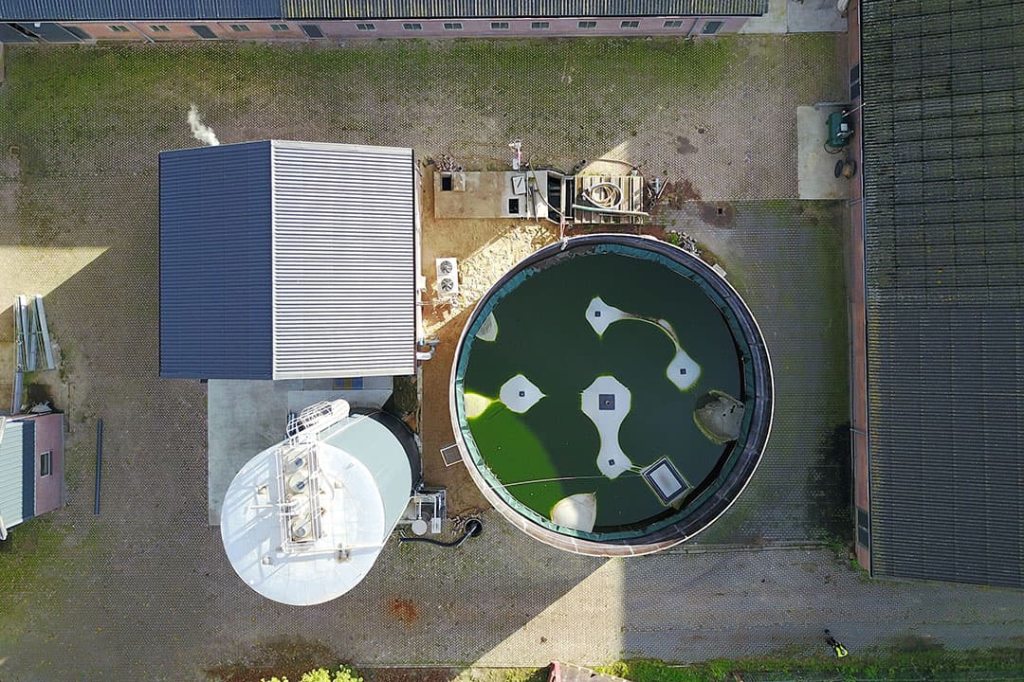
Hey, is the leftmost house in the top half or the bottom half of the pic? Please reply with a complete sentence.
The bottom half of the photo is where the leftmost house is.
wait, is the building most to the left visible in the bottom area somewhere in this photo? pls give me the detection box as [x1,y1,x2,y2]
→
[0,414,65,524]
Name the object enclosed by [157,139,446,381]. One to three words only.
shed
